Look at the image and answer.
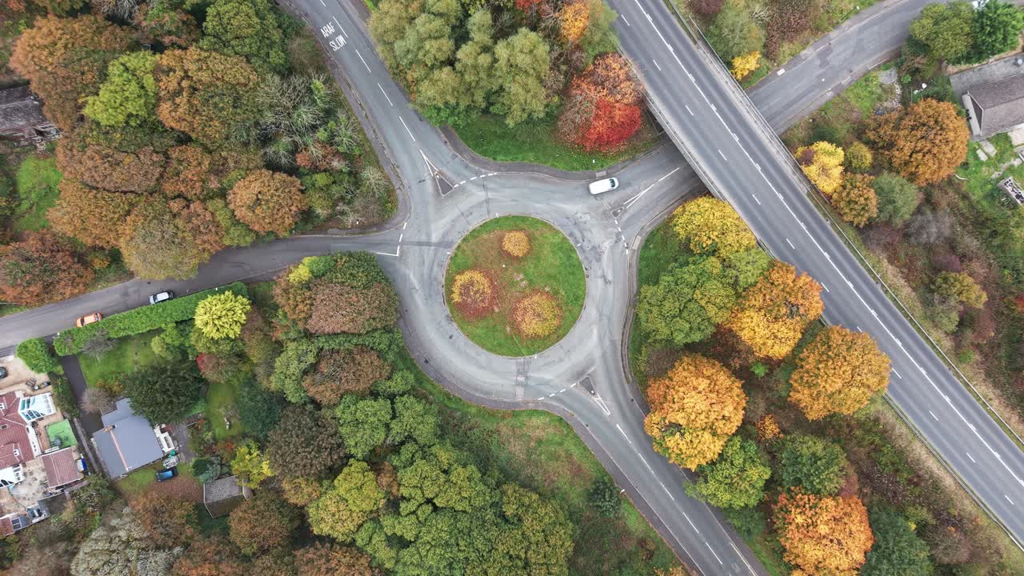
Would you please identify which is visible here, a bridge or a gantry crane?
bridge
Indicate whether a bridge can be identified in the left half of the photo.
No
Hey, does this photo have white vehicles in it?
Yes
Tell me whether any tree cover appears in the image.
Yes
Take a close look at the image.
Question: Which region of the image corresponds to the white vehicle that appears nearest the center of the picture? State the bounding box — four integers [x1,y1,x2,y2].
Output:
[586,176,617,196]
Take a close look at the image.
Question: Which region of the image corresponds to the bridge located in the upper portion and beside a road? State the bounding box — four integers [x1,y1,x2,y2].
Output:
[623,20,820,248]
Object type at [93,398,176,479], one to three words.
house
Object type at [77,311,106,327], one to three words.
car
